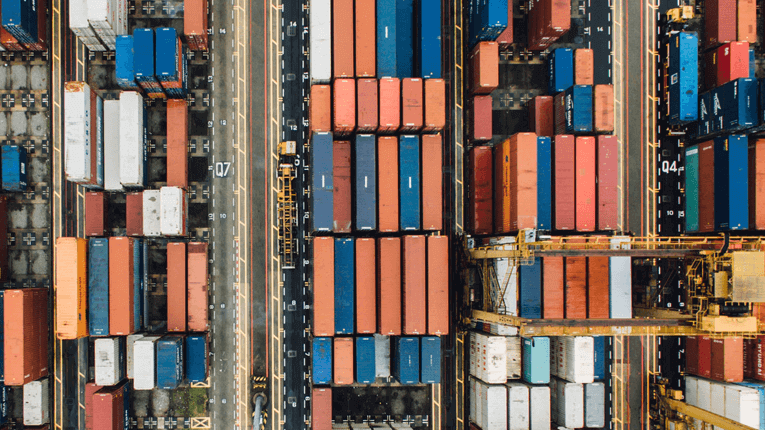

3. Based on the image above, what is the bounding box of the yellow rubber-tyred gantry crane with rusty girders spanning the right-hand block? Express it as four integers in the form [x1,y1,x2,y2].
[453,227,765,345]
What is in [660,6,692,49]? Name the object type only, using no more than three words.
truck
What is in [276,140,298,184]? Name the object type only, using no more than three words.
truck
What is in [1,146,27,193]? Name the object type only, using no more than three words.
shipping container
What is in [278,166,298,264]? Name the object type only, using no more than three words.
trailer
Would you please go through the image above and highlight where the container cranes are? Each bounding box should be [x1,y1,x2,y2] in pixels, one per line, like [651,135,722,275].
[644,375,765,430]
[453,227,765,345]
